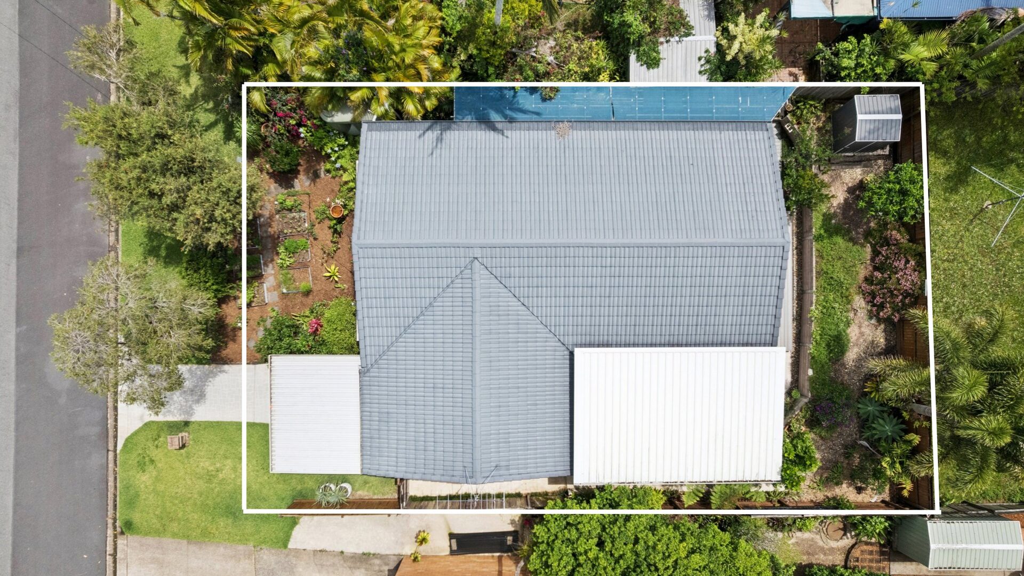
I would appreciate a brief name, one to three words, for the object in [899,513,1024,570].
shed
